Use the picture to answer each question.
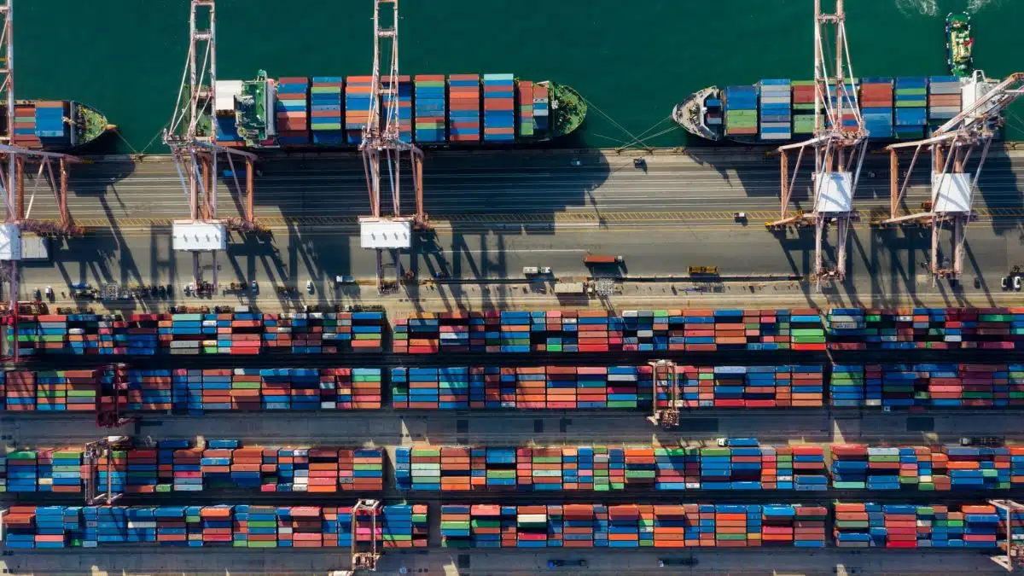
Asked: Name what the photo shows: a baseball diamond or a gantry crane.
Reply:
gantry crane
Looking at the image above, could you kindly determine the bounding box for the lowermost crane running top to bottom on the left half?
[353,489,389,571]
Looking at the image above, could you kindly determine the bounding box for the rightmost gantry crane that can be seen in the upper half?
[859,54,1024,287]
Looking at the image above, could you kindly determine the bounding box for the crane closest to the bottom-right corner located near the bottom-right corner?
[978,495,1024,573]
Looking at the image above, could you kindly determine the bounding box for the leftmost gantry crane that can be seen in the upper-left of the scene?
[0,0,101,301]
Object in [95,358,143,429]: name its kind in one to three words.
crane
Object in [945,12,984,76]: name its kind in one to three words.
boat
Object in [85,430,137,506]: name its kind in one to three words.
crane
